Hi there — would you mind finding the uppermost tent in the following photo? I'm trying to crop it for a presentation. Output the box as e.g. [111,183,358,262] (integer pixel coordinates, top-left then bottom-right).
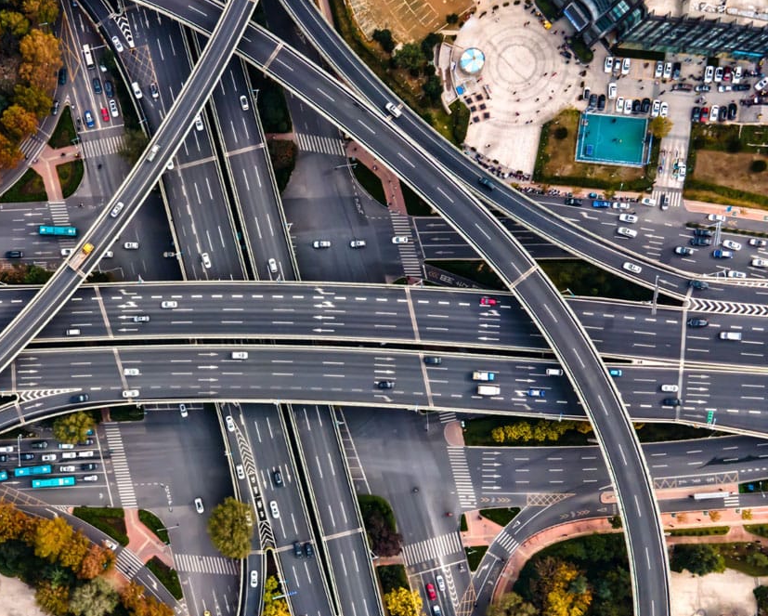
[461,42,491,73]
